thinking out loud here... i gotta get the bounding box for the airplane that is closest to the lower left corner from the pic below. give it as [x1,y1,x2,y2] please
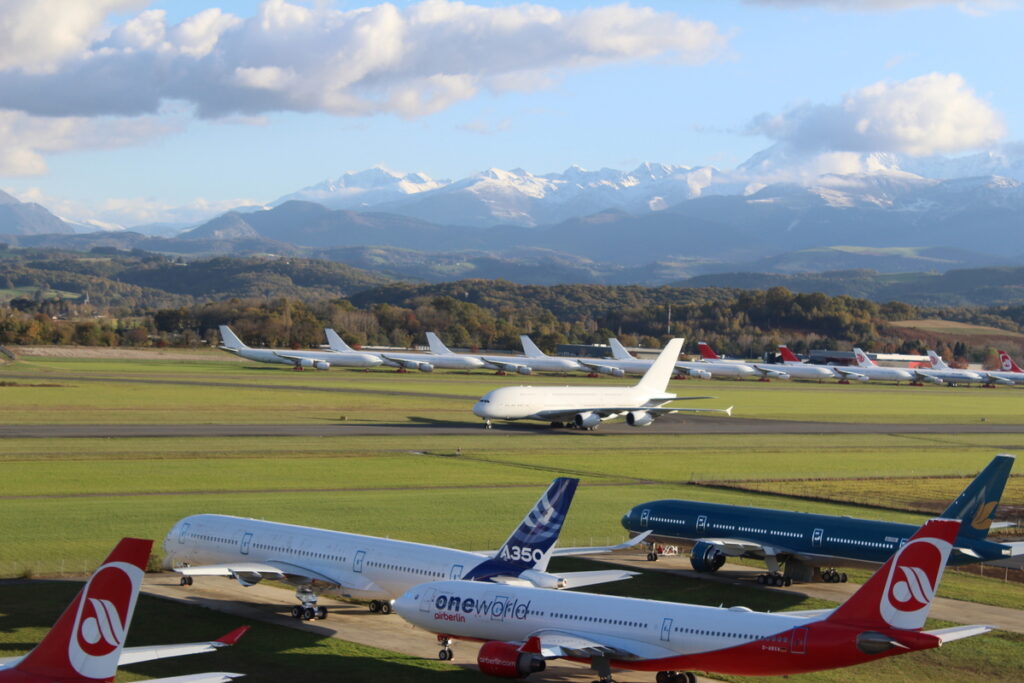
[0,543,256,683]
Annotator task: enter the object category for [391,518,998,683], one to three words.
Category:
airplane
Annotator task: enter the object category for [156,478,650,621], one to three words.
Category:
airplane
